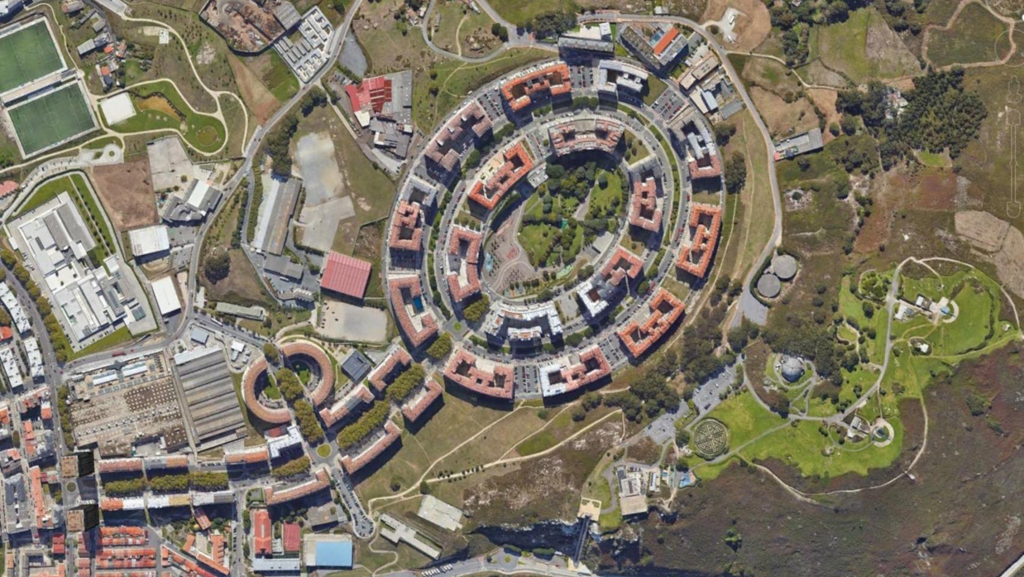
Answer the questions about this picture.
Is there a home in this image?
Yes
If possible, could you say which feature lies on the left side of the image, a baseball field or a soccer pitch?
soccer pitch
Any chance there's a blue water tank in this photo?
No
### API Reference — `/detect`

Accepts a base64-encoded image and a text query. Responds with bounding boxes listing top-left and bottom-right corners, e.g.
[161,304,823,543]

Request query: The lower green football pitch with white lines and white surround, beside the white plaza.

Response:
[2,79,99,159]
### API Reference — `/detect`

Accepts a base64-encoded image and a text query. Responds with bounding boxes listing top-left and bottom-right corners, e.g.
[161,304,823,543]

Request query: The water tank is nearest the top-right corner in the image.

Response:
[771,254,797,279]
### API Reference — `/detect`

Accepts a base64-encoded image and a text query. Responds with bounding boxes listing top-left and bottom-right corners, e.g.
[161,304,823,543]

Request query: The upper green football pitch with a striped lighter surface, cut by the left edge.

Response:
[0,16,67,98]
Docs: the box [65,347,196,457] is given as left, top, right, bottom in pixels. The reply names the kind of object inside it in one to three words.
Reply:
building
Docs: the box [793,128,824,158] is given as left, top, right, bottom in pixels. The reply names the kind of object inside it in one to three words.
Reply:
barn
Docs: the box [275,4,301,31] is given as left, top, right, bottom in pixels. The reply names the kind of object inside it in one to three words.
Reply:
house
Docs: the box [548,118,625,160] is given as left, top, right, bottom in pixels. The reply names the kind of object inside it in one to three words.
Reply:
building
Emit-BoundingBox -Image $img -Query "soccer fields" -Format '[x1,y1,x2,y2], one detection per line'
[2,79,99,159]
[0,16,67,98]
